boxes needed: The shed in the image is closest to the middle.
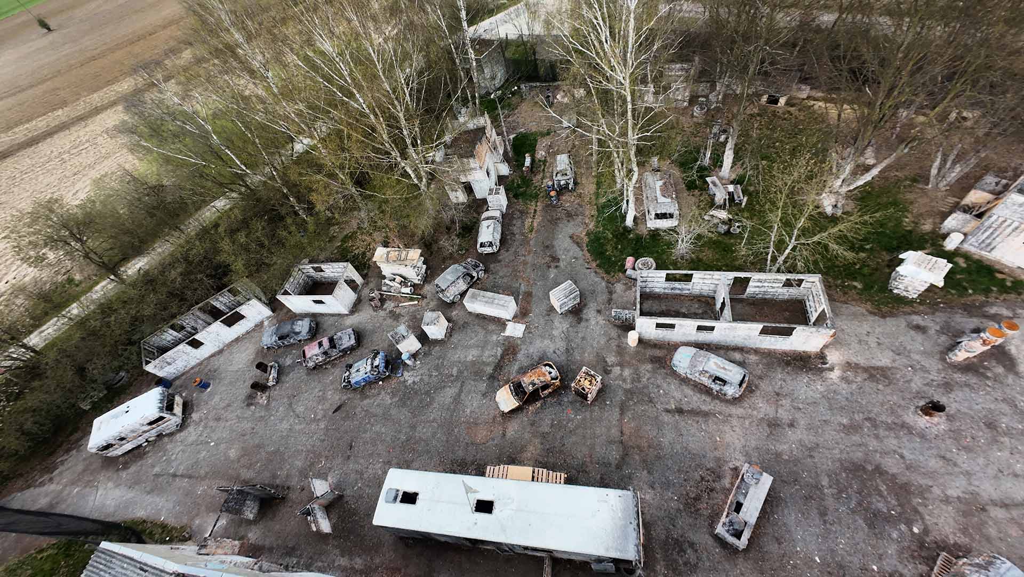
[452,113,513,199]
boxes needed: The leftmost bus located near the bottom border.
[375,469,639,571]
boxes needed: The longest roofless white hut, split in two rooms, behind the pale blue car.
[636,270,837,351]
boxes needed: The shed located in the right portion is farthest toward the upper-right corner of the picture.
[927,175,1024,298]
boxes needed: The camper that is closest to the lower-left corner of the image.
[88,388,189,457]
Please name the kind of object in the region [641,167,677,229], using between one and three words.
van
